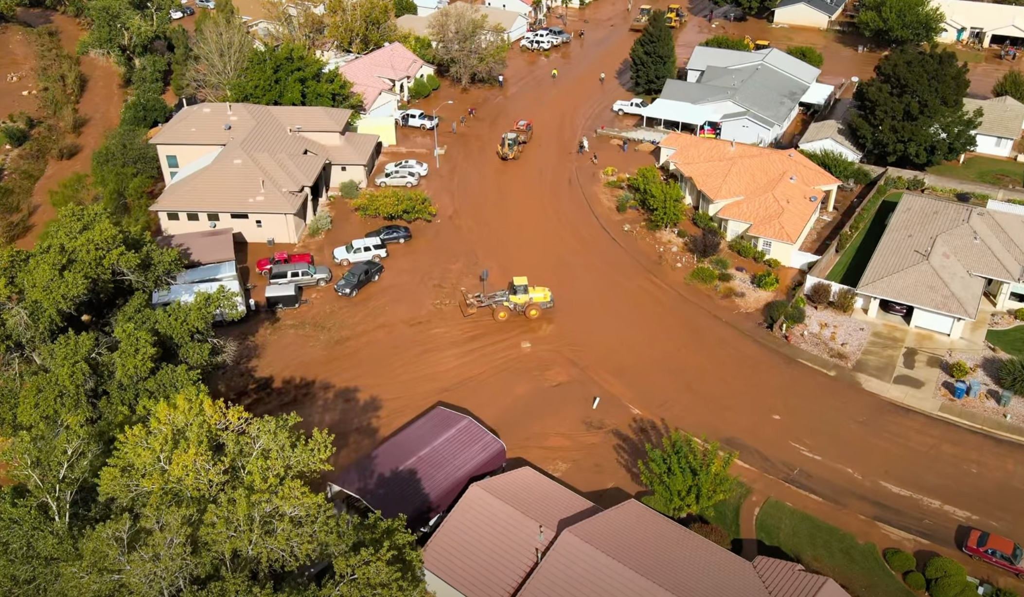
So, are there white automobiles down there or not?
Yes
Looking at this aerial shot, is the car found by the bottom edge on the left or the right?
right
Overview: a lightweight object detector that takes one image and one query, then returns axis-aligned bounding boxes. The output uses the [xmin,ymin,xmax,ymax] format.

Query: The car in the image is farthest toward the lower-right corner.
[960,530,1024,580]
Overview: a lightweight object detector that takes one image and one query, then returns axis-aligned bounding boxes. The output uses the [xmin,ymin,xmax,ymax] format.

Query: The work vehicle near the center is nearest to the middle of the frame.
[456,275,553,324]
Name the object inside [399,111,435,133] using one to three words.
truck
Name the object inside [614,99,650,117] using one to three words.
vehicle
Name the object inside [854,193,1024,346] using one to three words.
house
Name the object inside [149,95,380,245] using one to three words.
house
